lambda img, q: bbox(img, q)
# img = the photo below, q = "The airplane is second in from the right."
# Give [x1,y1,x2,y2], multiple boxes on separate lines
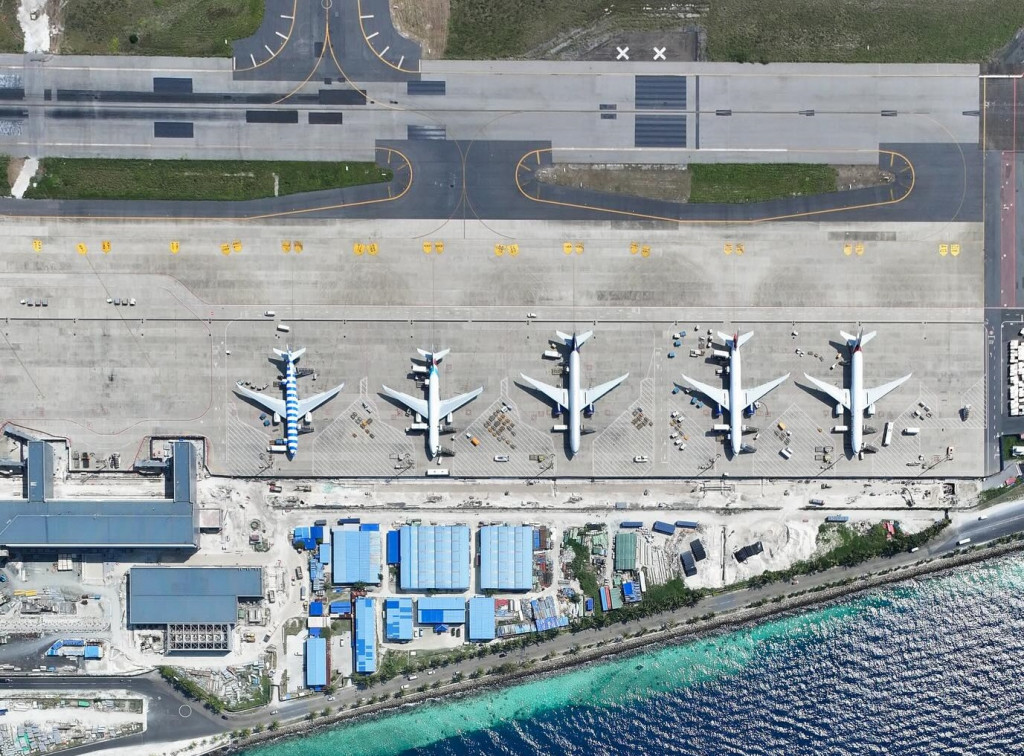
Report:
[681,331,791,456]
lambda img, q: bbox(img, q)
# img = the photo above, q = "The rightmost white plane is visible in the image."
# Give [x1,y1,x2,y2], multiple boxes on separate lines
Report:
[803,330,912,455]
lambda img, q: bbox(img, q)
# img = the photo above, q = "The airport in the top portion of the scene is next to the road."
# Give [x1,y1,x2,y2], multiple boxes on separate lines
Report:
[0,0,1024,477]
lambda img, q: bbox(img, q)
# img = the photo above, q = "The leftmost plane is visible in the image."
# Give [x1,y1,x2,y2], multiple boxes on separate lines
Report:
[235,346,343,457]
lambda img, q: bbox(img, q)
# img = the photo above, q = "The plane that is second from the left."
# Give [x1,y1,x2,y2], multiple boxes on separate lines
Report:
[383,347,484,458]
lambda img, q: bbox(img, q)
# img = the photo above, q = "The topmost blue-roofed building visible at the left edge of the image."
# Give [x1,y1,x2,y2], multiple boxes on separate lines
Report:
[0,424,201,545]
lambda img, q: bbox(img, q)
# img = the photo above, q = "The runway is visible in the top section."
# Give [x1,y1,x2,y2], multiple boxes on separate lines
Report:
[0,53,980,219]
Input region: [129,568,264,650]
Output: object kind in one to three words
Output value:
building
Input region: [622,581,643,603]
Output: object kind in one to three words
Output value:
shed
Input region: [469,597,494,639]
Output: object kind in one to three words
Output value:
shed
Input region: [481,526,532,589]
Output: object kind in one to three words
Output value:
building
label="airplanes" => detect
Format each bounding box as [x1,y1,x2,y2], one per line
[681,331,791,456]
[520,331,628,455]
[383,347,484,458]
[803,330,912,455]
[235,346,343,457]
